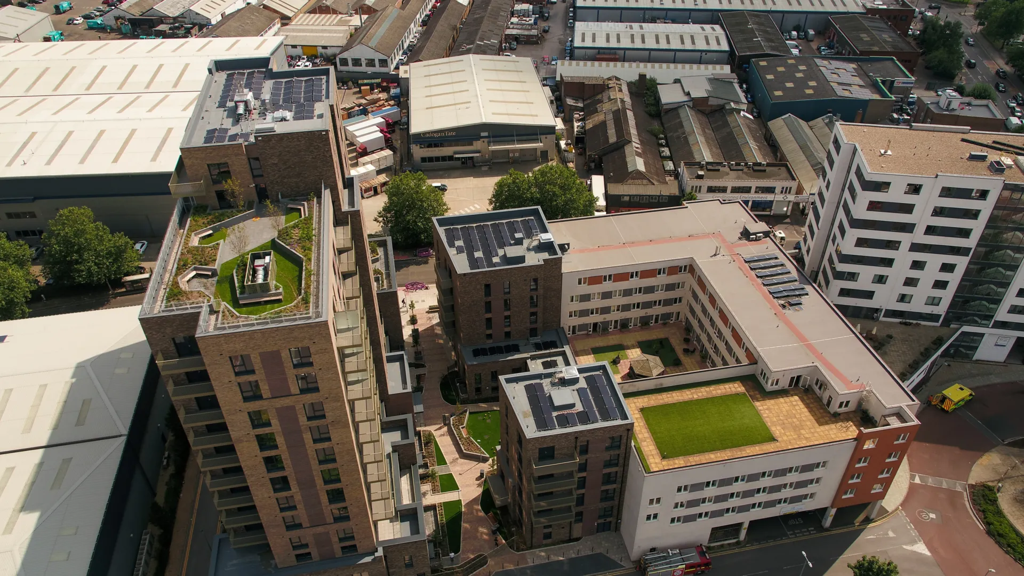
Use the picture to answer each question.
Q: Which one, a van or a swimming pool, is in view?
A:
van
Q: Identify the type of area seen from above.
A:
industrial area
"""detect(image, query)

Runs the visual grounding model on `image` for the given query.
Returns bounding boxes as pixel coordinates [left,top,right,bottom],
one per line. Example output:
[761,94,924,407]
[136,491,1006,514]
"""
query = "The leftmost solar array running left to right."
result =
[201,128,251,142]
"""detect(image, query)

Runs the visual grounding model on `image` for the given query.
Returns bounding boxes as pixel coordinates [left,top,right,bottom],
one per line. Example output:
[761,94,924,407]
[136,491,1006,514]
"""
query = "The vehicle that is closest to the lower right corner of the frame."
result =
[928,383,977,414]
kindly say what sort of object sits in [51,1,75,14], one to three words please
vehicle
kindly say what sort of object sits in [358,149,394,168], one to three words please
vehicle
